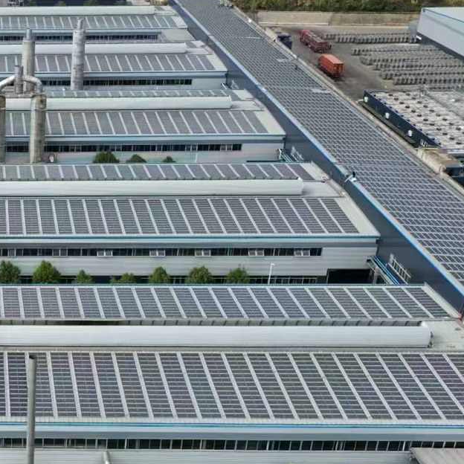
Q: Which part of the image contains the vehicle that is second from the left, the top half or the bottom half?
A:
top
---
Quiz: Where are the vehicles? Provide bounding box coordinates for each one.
[322,50,345,73]
[295,29,333,49]
[277,35,293,48]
